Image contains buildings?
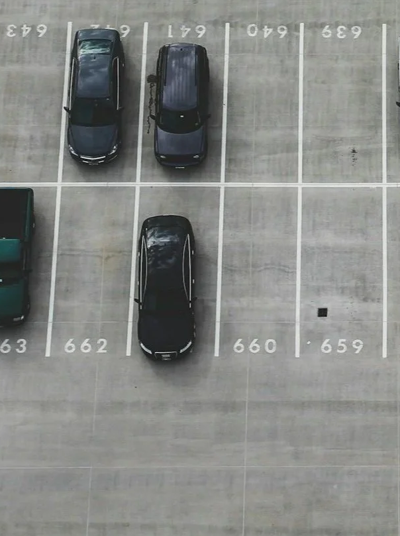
No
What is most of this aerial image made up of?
paved ground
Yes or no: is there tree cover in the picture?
No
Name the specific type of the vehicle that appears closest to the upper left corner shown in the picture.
automobile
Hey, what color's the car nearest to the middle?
black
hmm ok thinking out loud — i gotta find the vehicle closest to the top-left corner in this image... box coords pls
[61,28,126,167]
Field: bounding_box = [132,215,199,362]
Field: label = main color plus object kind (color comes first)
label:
black car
